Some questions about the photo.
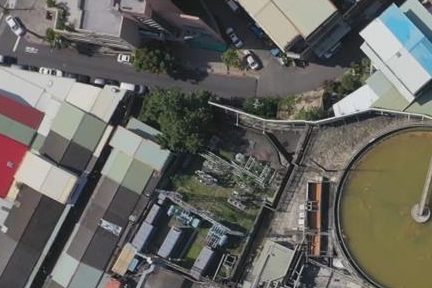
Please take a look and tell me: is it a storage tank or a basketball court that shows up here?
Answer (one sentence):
This aerial view contains a storage tank.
